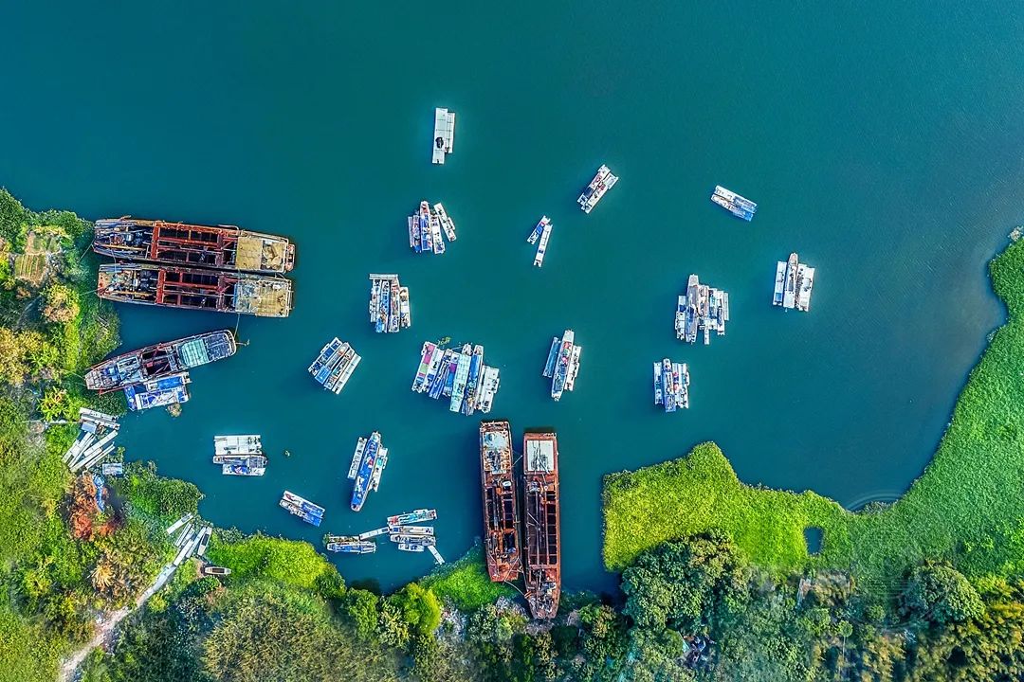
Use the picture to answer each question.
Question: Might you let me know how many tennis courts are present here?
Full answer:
There are no tennis courts in the image.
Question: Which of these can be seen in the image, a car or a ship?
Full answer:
Looking from above, you can make out a ship.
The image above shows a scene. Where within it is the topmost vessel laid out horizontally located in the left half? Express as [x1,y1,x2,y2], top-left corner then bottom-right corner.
[91,212,297,275]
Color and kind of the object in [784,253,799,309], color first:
white boat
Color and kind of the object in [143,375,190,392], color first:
blue boat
